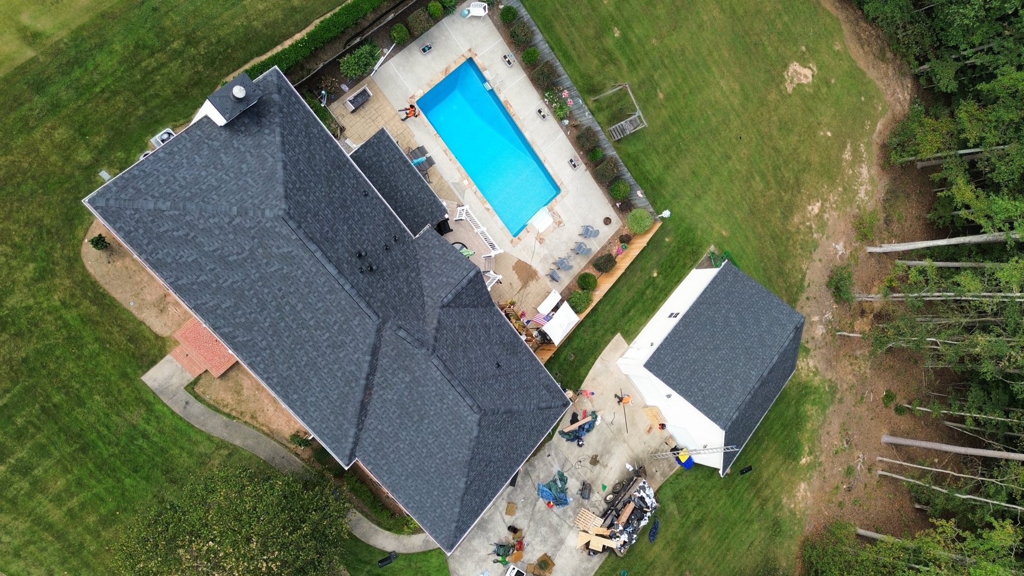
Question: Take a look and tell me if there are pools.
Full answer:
Yes, a pool appears in the view.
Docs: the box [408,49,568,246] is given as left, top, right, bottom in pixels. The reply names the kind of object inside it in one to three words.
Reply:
swimming pool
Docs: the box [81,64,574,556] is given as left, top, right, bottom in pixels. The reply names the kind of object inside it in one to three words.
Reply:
house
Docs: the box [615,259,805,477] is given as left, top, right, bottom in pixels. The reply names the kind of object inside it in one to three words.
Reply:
building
